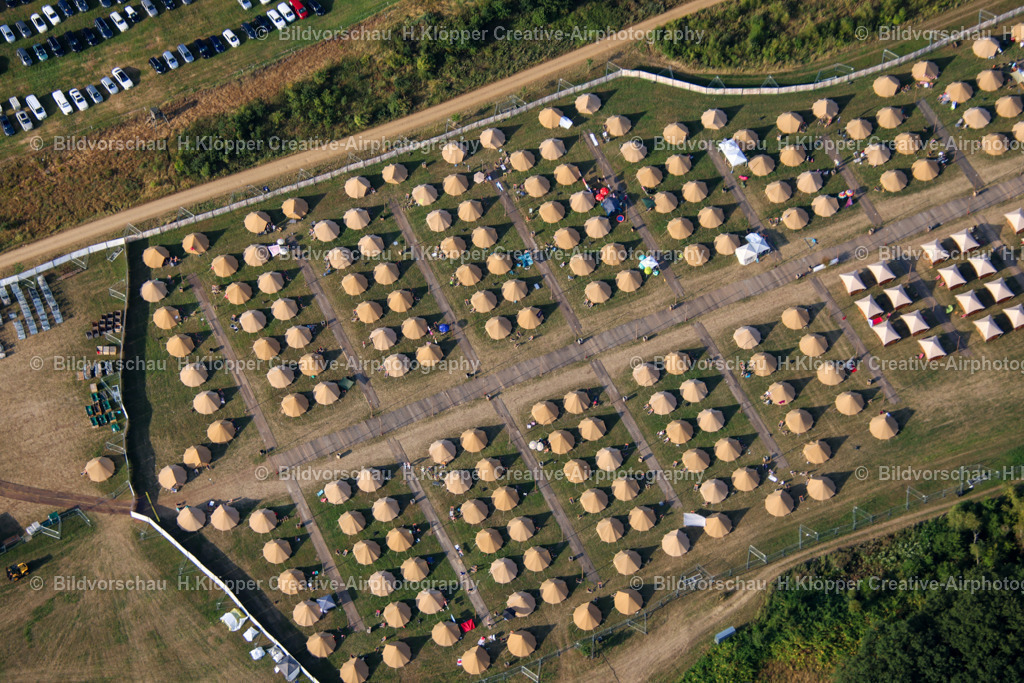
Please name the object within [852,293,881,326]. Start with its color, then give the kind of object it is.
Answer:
white tent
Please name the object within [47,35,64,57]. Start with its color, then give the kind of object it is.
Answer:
black car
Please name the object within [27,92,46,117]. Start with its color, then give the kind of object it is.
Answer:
white vehicle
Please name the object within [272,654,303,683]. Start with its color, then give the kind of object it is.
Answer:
gray gazebo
